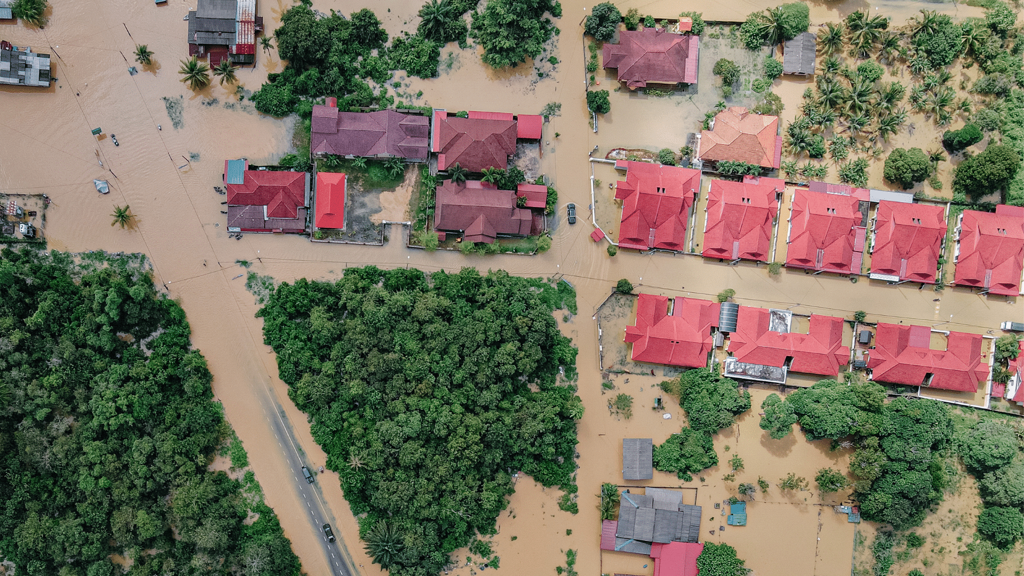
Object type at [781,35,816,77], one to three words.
shed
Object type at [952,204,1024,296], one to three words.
house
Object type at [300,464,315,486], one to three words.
vehicle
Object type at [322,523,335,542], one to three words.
vehicle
